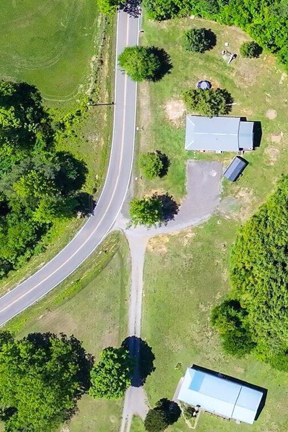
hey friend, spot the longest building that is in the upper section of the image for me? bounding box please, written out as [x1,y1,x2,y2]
[185,115,253,153]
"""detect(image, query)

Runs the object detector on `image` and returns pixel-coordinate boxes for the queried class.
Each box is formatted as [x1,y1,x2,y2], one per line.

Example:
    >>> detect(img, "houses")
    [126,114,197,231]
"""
[185,115,253,153]
[178,367,263,424]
